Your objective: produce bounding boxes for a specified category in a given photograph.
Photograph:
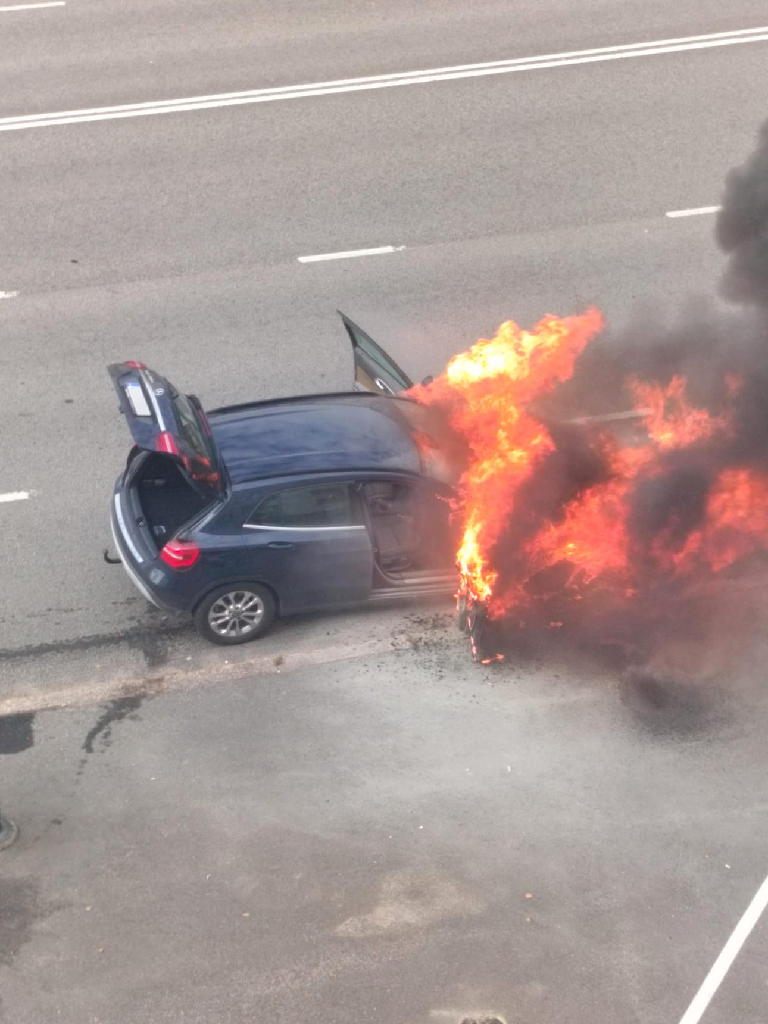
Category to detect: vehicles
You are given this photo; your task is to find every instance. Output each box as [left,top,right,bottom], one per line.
[97,306,615,655]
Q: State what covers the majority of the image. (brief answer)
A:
paved ground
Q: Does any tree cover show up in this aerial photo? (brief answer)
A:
No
